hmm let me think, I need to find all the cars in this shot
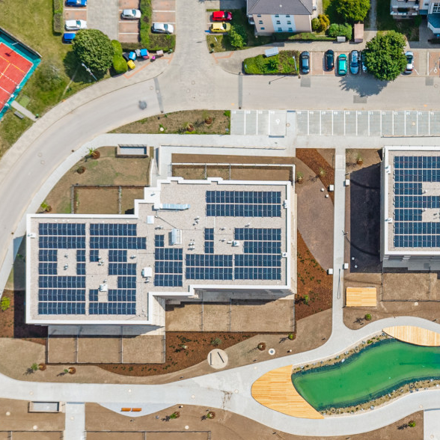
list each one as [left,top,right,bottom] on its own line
[405,51,415,74]
[65,0,87,7]
[60,32,79,43]
[300,51,311,74]
[349,49,360,74]
[213,9,233,21]
[153,22,174,34]
[122,7,141,19]
[325,49,336,71]
[338,53,348,75]
[211,21,231,33]
[65,18,87,29]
